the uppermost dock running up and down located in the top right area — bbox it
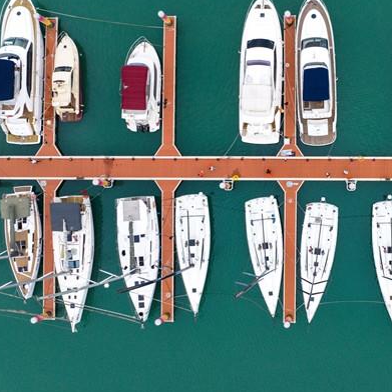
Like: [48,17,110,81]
[276,15,303,156]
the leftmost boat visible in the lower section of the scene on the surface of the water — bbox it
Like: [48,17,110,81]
[0,186,43,304]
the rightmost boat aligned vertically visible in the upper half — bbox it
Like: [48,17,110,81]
[296,0,337,146]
